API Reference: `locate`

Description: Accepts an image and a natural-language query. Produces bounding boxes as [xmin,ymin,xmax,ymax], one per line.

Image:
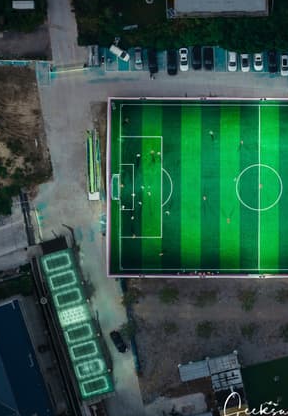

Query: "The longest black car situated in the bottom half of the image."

[109,330,127,354]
